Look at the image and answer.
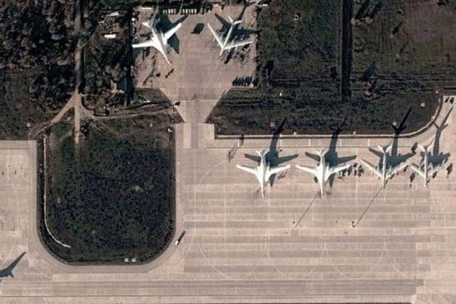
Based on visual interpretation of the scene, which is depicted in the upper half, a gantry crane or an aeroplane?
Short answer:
aeroplane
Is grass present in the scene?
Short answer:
Yes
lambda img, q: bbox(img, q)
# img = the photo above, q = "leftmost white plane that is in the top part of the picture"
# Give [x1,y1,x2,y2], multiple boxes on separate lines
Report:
[132,19,181,65]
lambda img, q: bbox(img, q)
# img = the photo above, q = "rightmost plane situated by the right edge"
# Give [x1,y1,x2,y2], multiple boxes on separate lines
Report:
[410,141,444,187]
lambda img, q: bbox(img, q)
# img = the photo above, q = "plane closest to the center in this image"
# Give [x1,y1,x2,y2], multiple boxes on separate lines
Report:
[236,149,291,198]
